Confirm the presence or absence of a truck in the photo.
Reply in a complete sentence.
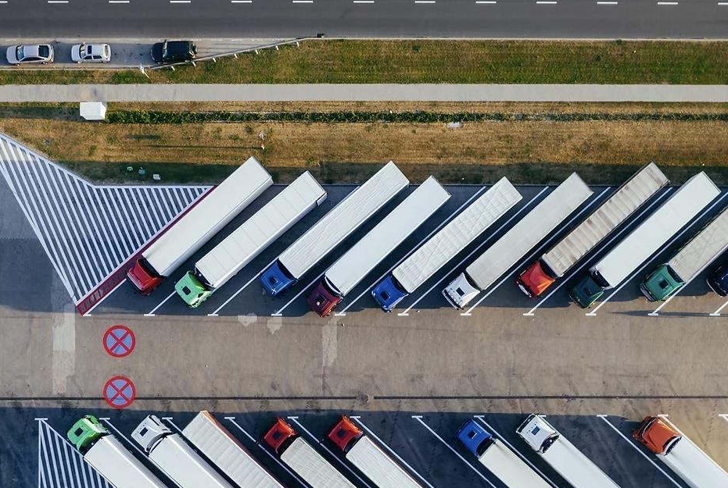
Yes, the photo shows a truck.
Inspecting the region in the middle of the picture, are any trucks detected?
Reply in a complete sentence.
Yes, a truck shows up in the middle of the picture.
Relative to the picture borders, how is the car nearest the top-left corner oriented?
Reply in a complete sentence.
In this picture, the car nearest the top-left corner is oriented from left to right.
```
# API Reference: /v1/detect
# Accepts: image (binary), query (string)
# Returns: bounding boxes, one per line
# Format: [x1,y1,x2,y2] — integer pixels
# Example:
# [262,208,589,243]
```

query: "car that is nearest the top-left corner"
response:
[7,42,57,66]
